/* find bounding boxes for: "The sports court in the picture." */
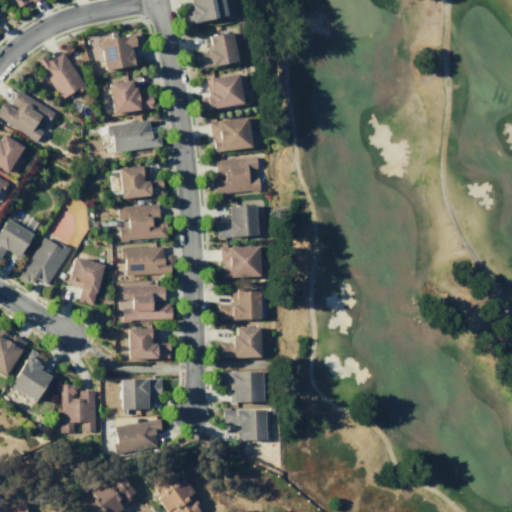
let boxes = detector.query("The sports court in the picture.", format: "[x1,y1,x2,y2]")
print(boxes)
[50,200,88,249]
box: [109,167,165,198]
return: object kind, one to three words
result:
house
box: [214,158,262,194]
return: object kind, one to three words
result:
house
